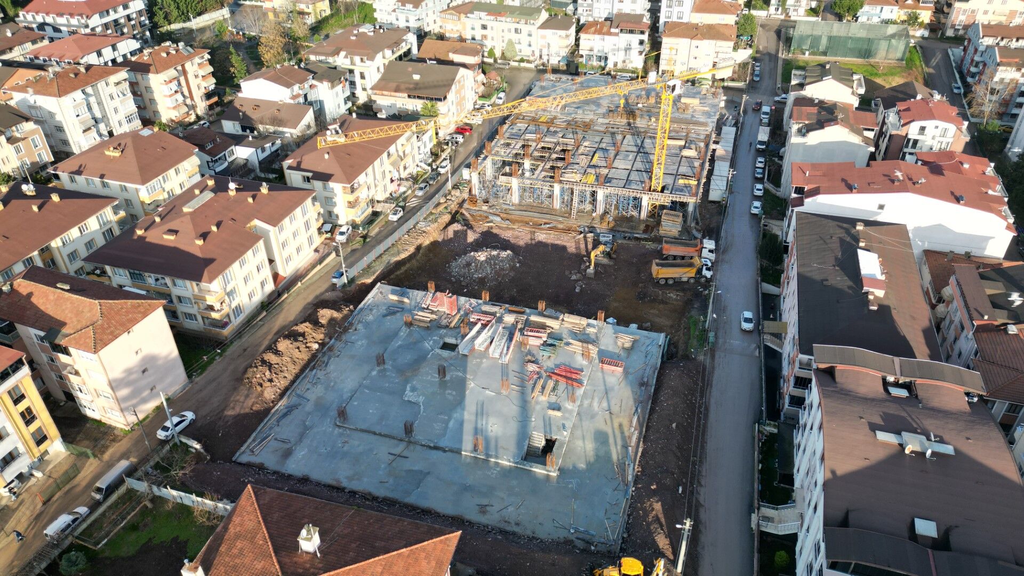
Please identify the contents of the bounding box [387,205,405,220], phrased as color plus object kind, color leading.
white car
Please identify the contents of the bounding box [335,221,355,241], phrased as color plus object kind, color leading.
white car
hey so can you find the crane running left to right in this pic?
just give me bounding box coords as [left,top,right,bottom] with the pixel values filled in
[314,48,749,217]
